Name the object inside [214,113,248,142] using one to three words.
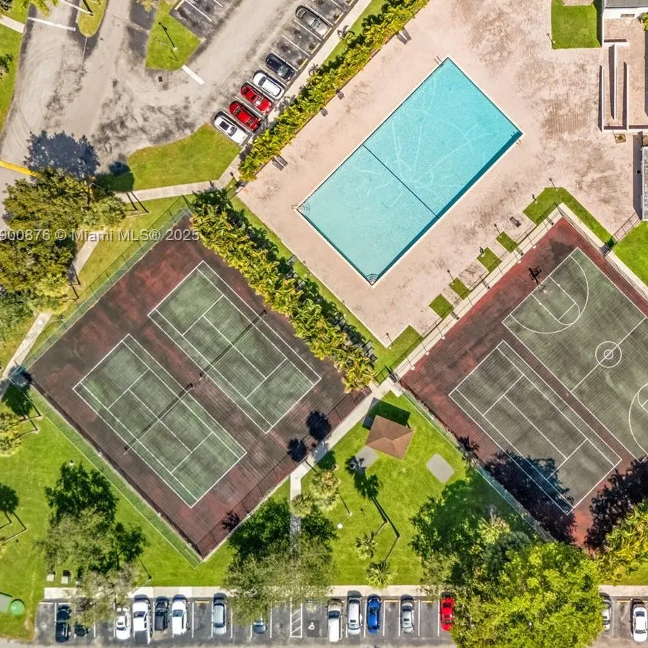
car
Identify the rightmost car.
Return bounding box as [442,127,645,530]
[632,599,648,634]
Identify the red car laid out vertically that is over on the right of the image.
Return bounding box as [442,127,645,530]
[439,595,455,628]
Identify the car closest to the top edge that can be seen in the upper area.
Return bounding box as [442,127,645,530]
[296,5,329,34]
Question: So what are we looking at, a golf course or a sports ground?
sports ground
